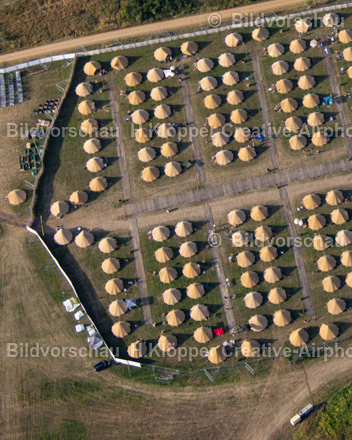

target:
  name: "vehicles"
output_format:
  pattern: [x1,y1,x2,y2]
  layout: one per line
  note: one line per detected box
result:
[92,358,112,371]
[289,402,315,425]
